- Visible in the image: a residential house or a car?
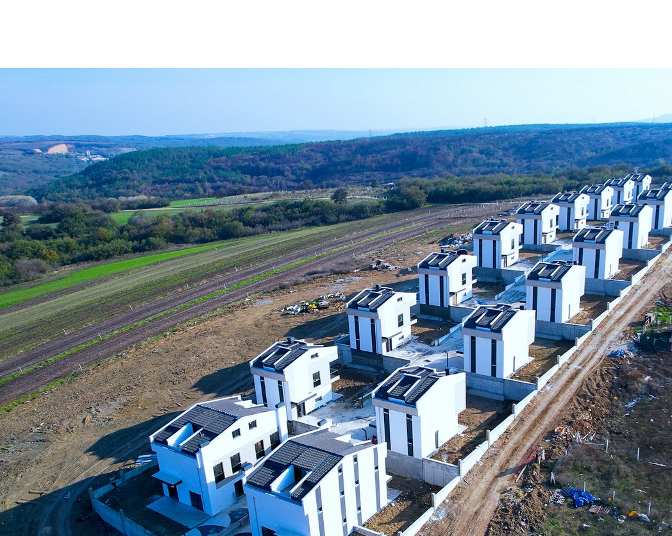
residential house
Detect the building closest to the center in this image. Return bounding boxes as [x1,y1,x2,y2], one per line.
[347,284,418,354]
